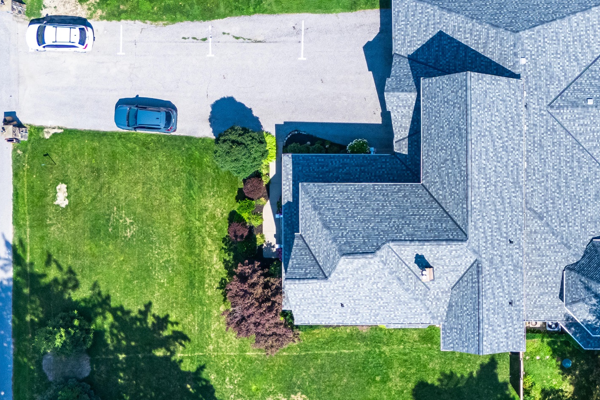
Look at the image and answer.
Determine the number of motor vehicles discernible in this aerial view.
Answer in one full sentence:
Altogether the scene contains 2 motor vehicles.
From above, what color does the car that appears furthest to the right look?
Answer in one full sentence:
The color of the car that appears furthest to the right is blue.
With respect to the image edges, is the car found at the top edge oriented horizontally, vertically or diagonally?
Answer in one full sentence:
From this overhead view, the car found at the top edge appears to run horizontally.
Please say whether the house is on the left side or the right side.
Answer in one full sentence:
It is on the right.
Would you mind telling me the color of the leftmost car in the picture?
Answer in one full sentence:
The leftmost car is white.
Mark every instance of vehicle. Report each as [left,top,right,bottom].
[118,101,179,134]
[29,19,97,52]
